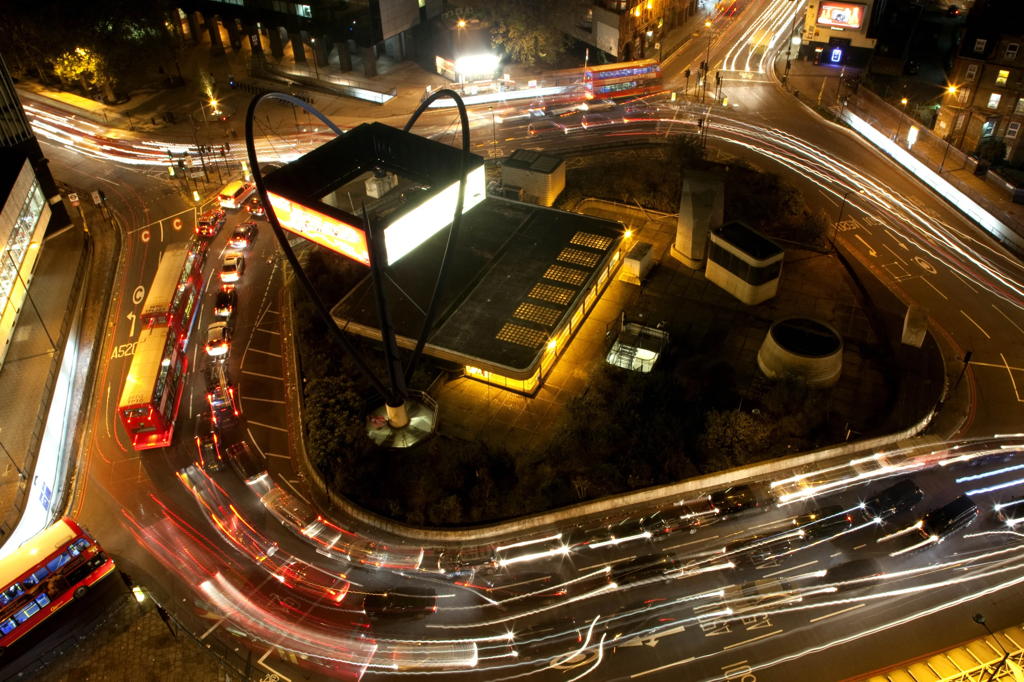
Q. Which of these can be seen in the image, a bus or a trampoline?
bus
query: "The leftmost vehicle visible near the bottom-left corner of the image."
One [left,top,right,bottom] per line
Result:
[0,521,110,665]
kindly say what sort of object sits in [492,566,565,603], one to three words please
car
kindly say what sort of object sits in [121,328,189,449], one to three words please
bus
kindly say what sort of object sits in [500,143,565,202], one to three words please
building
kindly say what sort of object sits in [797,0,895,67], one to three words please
building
